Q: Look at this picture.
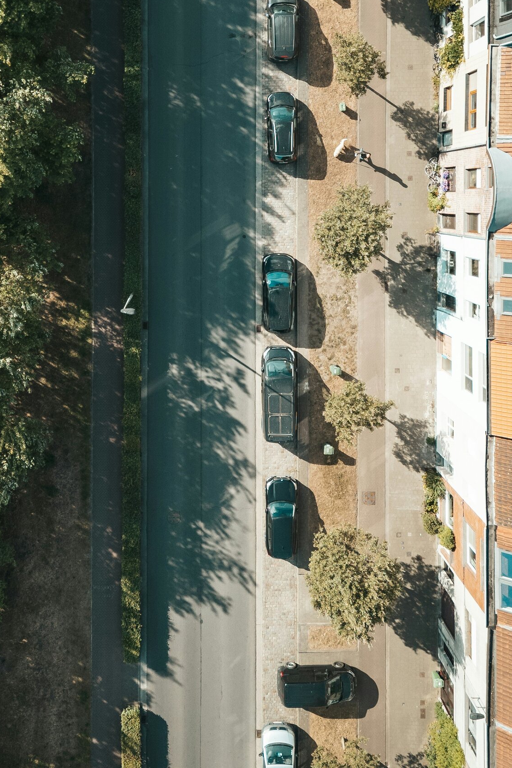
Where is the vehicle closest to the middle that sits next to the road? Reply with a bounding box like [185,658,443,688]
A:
[259,345,300,441]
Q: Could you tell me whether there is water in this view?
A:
No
